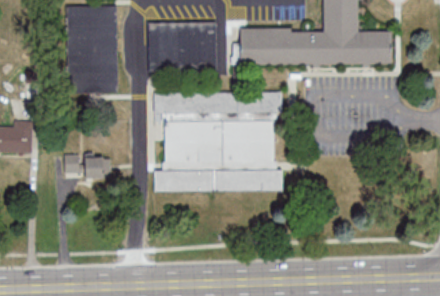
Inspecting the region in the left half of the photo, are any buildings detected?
Yes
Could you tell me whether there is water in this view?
No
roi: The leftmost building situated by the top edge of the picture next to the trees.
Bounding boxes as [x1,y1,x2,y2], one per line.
[68,6,117,94]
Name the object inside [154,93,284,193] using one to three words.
building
